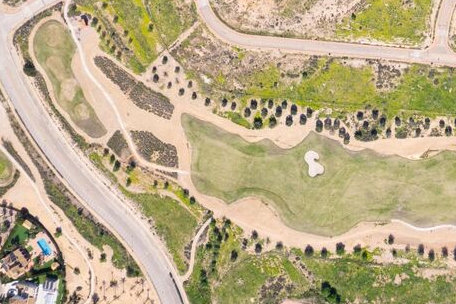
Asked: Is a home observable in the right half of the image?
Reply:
No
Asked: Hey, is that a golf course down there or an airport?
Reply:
golf course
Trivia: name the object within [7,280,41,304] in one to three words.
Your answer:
house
